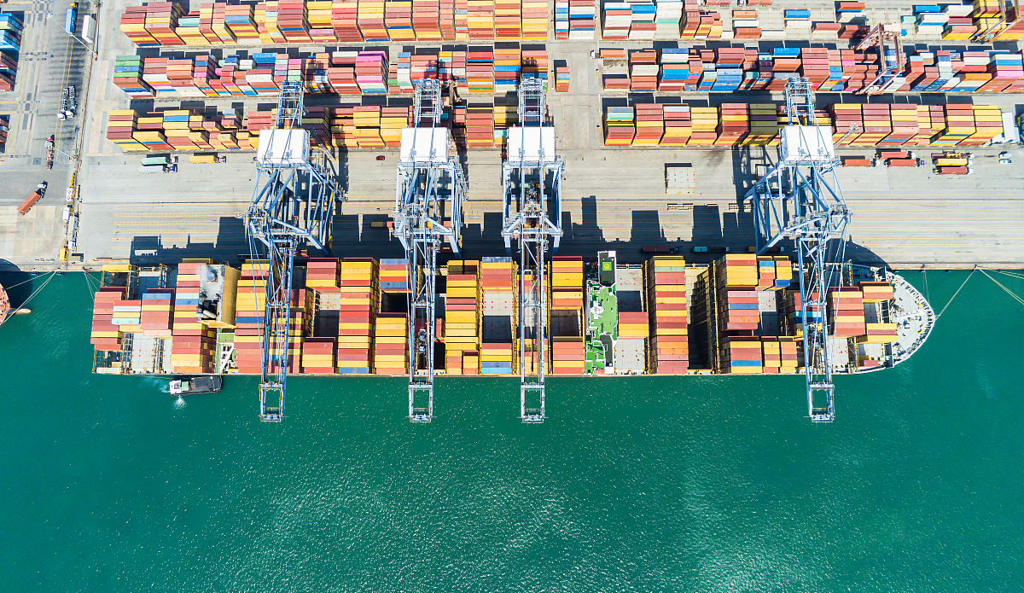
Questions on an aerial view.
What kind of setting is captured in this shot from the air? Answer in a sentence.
The picture captures a port.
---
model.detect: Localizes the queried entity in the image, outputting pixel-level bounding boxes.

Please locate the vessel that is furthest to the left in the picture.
[0,283,27,331]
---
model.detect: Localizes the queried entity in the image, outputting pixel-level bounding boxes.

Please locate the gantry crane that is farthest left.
[242,76,353,428]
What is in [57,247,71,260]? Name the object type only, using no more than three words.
vehicle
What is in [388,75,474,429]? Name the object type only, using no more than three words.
container crane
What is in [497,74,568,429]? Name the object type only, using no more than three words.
container crane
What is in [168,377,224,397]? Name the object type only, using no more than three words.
boat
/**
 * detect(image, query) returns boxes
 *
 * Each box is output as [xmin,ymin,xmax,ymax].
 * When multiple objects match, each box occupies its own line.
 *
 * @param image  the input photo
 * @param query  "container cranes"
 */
[497,74,568,429]
[242,76,353,428]
[440,77,466,151]
[851,18,905,95]
[730,72,854,430]
[388,75,474,429]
